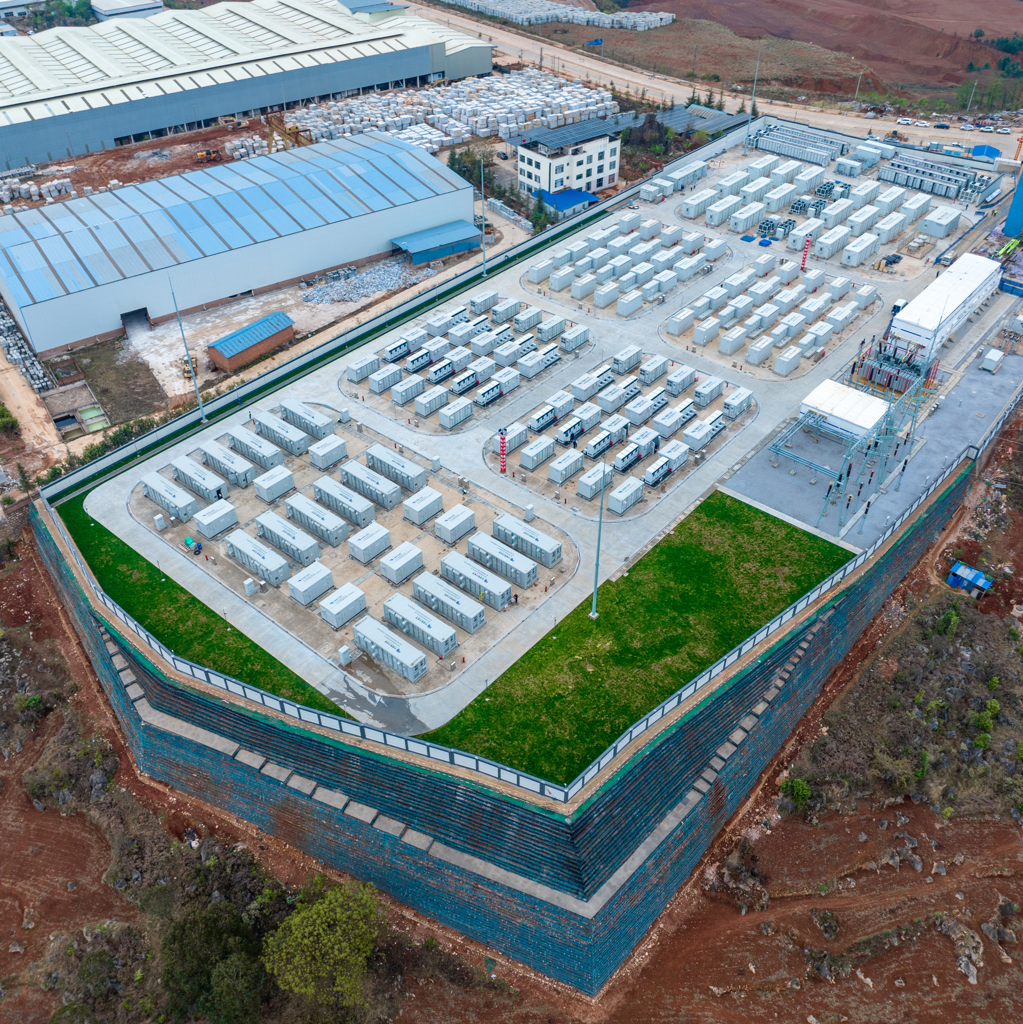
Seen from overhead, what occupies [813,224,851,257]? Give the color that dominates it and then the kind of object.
white shipping container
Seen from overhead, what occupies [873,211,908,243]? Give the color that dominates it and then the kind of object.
white shipping container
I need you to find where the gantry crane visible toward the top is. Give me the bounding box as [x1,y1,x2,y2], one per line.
[265,109,320,148]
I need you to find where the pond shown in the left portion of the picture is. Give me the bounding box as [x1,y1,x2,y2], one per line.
[40,379,112,443]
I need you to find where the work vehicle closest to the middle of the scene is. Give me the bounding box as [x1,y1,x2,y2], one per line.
[478,219,500,235]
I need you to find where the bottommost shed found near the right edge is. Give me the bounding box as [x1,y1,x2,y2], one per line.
[946,554,997,598]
